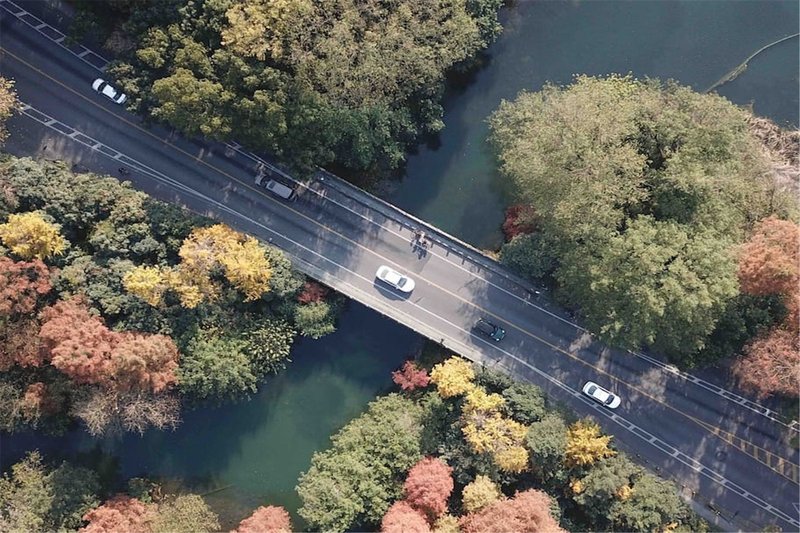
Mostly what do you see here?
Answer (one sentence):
Most of the picture is covered by trees.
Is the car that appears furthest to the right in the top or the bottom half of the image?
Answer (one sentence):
The bottom half of the photo is where the car that appears furthest to the right is.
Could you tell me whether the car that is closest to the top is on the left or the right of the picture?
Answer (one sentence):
The car that is closest to the top sits on the left side.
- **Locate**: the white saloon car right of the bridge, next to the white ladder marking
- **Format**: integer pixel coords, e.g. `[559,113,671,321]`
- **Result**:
[579,379,621,410]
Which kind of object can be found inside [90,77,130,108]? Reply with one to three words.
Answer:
car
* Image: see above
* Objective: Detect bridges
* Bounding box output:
[290,163,546,367]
